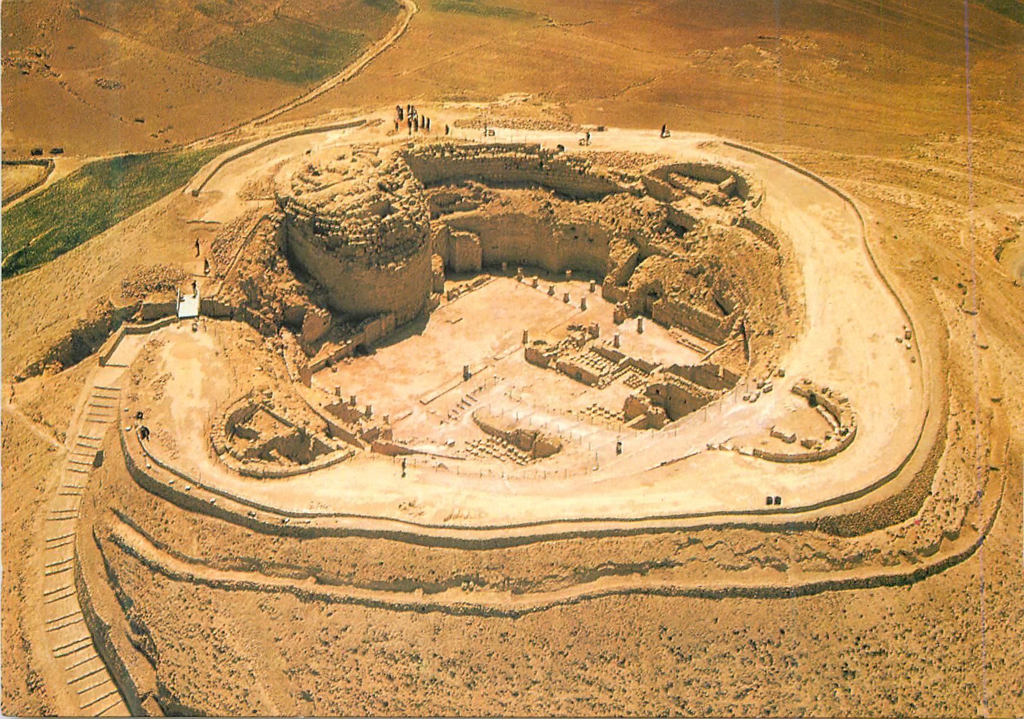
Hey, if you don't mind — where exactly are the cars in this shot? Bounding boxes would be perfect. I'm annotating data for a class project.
[48,146,63,156]
[29,147,44,156]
